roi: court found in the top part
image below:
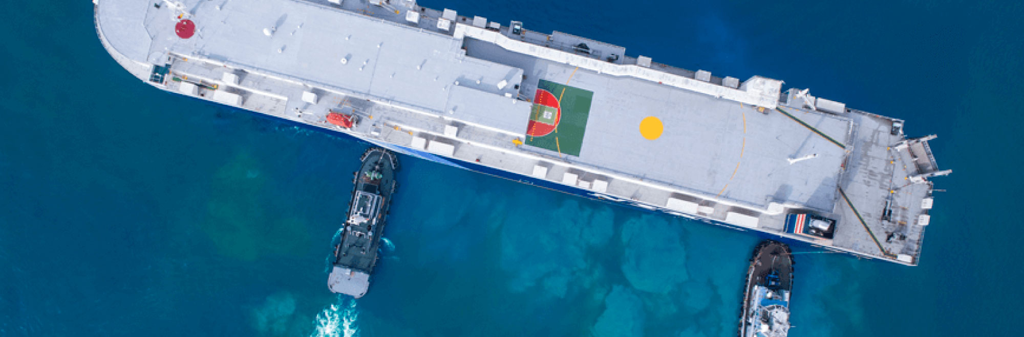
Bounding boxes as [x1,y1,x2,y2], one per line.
[525,79,594,157]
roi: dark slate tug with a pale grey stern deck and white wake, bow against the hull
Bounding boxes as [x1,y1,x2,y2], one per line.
[328,146,398,298]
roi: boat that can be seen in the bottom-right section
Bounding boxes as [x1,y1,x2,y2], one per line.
[738,241,796,337]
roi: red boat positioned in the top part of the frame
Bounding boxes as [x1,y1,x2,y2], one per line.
[326,113,353,127]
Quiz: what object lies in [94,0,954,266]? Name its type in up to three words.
ship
